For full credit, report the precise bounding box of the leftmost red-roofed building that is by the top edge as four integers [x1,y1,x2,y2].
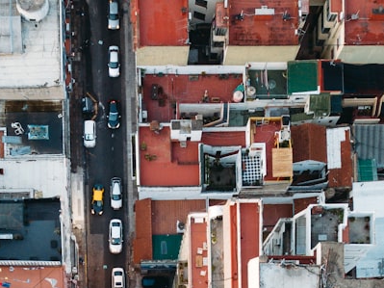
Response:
[130,0,227,80]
